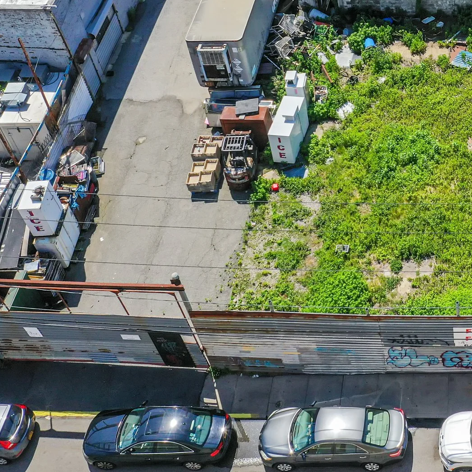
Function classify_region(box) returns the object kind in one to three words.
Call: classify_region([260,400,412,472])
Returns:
car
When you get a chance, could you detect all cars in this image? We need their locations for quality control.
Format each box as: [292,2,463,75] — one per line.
[260,400,412,472]
[86,400,244,472]
[0,406,54,470]
[439,407,472,472]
